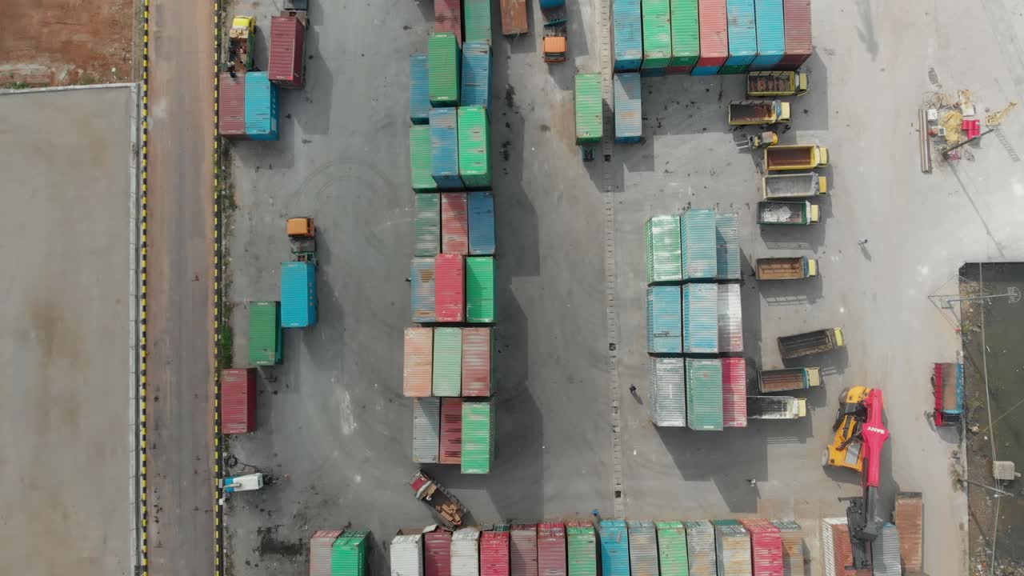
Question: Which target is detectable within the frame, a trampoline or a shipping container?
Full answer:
Visible in the photo is a shipping container.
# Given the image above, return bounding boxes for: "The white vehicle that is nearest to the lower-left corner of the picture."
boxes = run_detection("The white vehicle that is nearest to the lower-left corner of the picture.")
[220,471,281,497]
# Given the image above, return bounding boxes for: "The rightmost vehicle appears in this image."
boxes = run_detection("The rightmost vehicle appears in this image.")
[928,362,967,426]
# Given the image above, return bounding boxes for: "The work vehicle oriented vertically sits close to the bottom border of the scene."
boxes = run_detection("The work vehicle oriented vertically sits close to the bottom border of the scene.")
[821,383,892,574]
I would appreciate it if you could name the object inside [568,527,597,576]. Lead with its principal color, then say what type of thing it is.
green shipping container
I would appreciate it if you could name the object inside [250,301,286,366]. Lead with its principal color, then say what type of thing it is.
green shipping container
